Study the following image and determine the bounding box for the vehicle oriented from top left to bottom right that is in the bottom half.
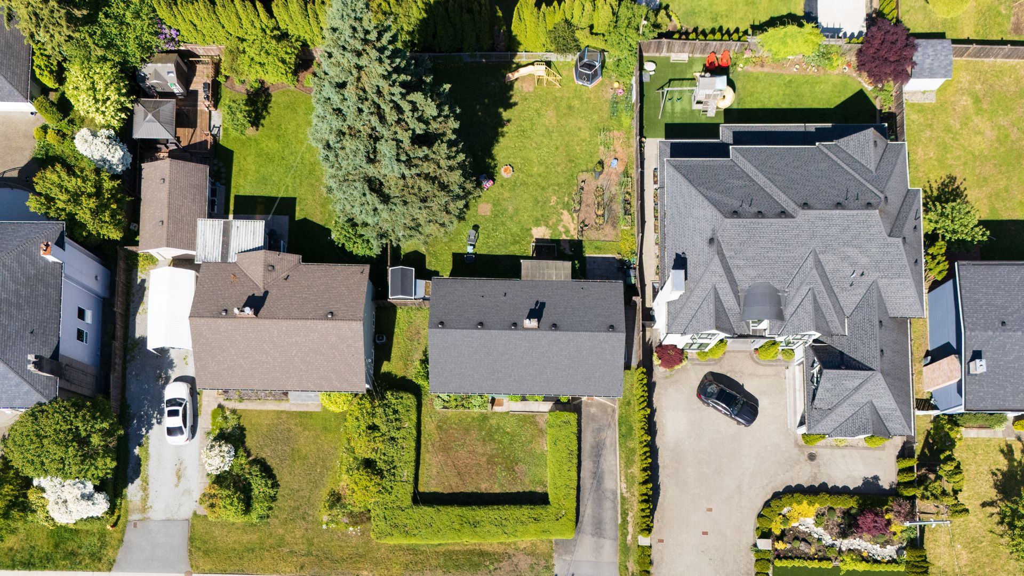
[700,377,760,426]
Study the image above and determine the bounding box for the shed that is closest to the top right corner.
[906,39,954,91]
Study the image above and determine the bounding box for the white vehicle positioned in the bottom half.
[162,384,193,447]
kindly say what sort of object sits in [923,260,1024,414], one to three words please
house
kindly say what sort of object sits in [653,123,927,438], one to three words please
house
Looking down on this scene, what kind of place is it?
residential area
